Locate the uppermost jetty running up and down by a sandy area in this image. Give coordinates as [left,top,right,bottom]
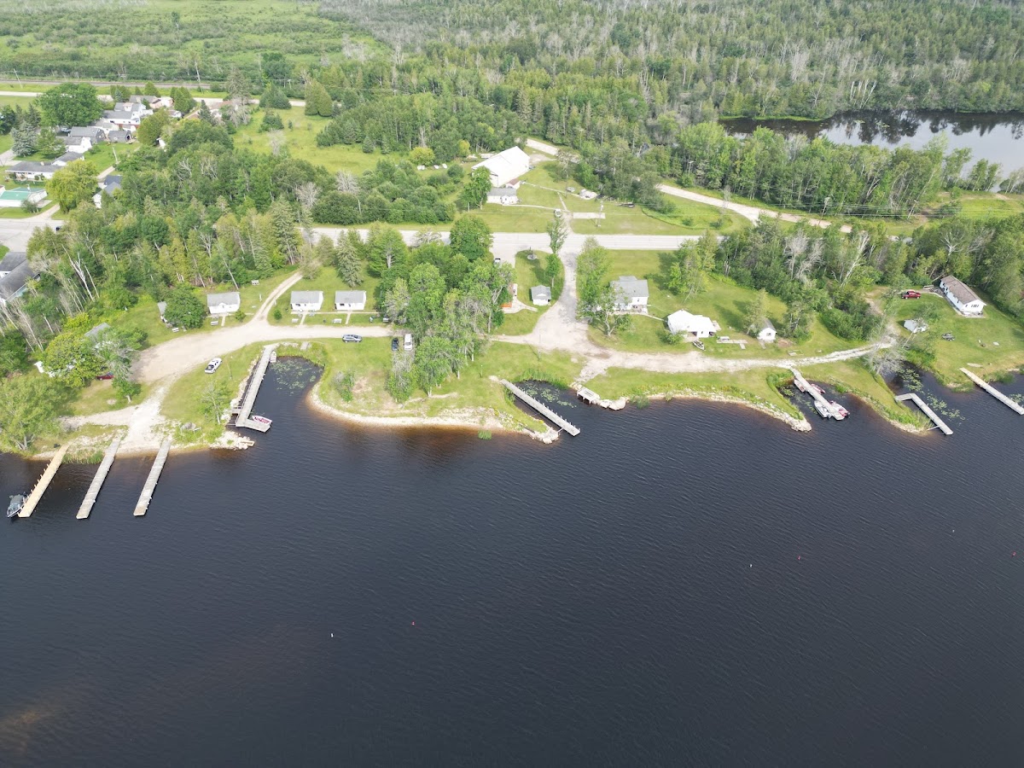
[231,346,273,432]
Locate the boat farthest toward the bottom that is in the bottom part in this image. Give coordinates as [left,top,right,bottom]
[7,492,28,518]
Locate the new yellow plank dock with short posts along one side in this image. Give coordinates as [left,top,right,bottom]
[17,452,68,518]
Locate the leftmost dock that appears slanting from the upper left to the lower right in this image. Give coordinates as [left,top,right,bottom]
[504,378,578,434]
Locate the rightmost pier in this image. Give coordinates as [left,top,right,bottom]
[975,380,1024,415]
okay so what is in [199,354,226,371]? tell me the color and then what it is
white vehicle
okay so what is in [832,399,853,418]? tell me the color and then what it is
white boat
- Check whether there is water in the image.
Yes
